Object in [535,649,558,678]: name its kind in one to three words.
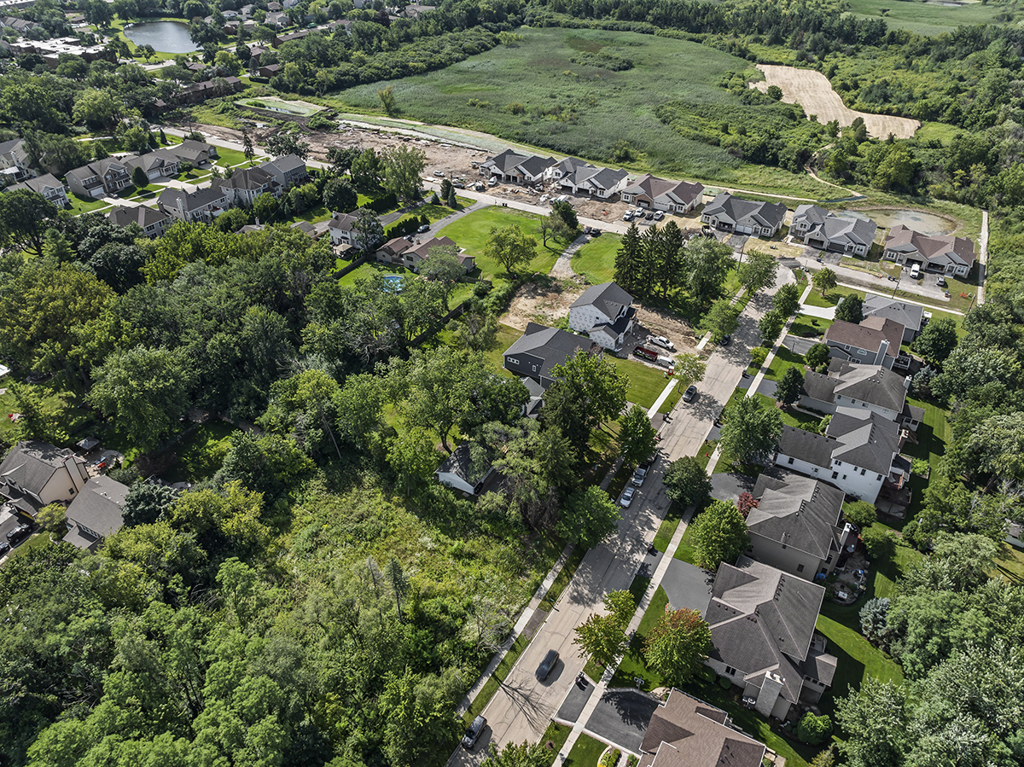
car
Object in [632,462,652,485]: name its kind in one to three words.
vehicle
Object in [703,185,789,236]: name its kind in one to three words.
house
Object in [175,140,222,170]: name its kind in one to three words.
house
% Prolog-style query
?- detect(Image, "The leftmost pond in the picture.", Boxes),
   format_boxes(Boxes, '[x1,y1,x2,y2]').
[125,21,198,52]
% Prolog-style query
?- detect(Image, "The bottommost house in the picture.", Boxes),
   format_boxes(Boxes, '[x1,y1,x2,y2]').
[639,684,767,767]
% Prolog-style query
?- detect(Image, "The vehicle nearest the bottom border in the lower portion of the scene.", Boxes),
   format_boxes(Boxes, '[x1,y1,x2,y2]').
[462,713,487,746]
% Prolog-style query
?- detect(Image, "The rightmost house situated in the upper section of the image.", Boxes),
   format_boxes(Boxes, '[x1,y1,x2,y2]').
[884,219,977,278]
